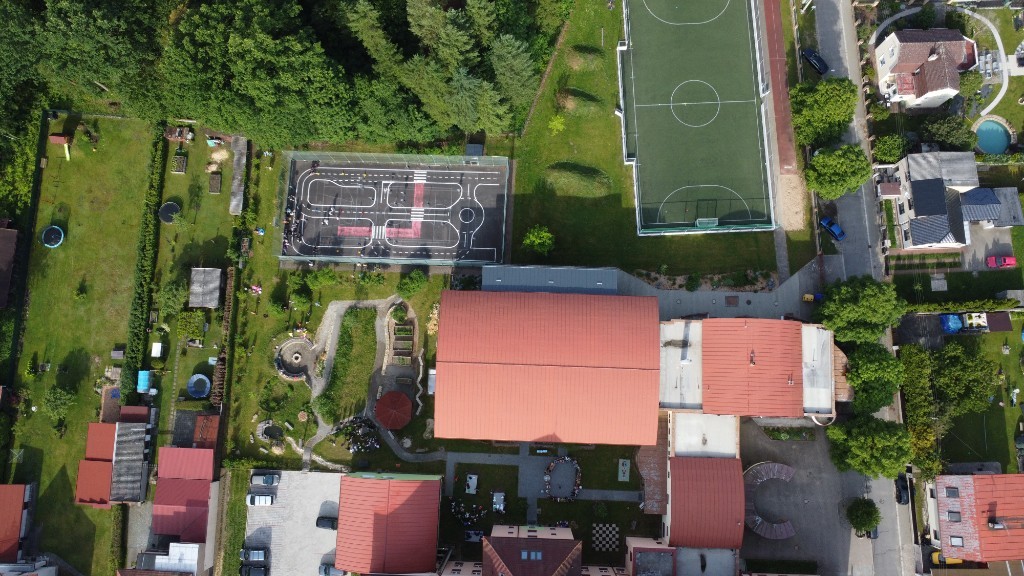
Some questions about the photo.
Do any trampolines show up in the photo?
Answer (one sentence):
Yes, a trampoline can be made out from above.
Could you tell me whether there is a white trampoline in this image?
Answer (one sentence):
No, no white trampoline is visible in the scene.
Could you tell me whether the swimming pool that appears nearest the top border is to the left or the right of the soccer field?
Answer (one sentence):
Compared with the soccer field, the swimming pool that appears nearest the top border is located further to the right.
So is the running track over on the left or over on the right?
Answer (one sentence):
The running track appears in the right half of the scene.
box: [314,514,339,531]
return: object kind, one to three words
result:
car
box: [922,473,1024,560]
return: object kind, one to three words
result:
house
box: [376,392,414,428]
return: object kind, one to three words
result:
gazebo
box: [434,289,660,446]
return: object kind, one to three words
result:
building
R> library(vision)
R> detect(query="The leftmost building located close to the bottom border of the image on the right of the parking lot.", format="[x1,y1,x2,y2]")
[336,473,442,570]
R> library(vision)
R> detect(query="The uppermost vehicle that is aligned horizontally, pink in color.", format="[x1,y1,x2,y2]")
[984,254,1017,269]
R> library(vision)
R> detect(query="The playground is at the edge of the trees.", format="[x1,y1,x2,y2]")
[282,160,508,266]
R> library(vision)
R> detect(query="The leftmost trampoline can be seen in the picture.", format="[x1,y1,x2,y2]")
[34,223,64,247]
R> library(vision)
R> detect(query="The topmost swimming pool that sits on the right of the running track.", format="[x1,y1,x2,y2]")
[971,116,1013,152]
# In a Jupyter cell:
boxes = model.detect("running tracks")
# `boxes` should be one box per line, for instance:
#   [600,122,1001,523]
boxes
[764,0,797,175]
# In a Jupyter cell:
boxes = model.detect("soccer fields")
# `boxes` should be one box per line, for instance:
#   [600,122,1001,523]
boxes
[618,0,775,235]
